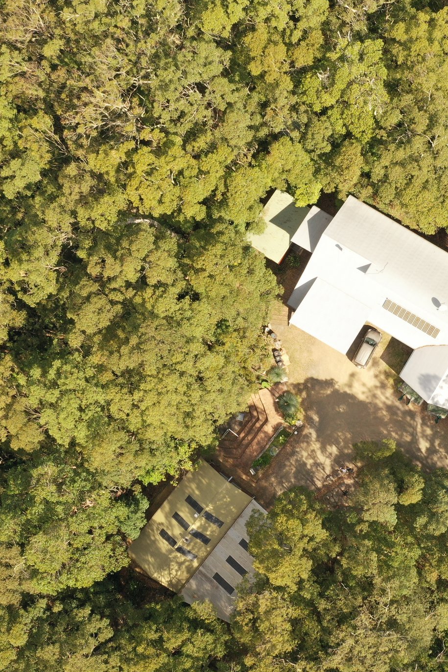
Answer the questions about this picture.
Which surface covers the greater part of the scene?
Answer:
trees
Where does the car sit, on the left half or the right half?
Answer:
right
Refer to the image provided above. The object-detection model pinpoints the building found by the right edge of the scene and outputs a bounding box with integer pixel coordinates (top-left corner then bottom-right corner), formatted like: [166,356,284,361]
[287,195,448,408]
